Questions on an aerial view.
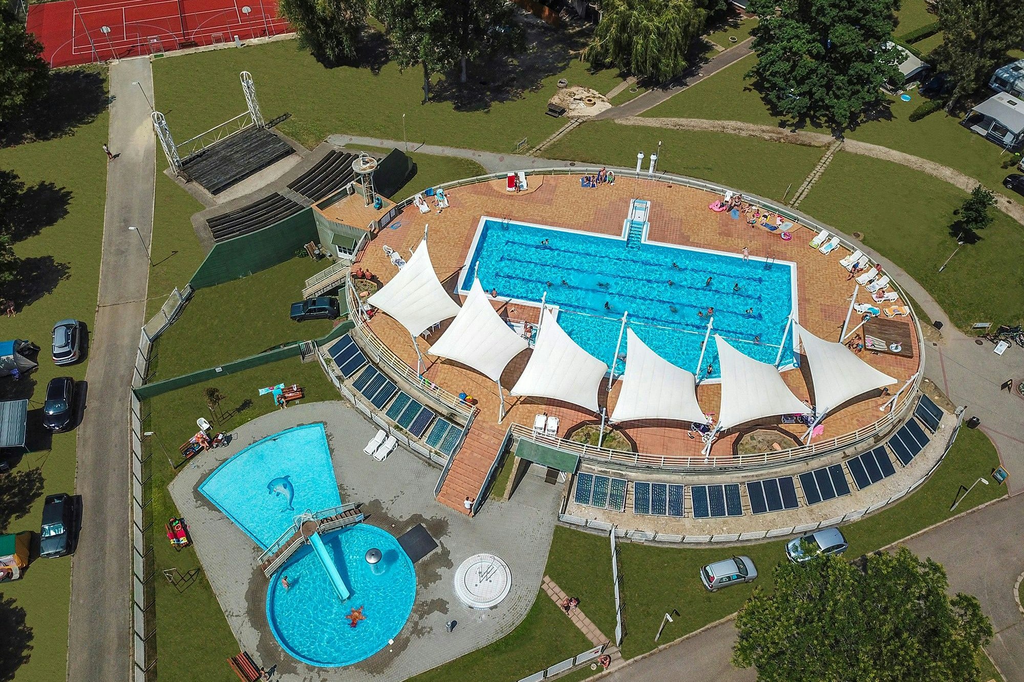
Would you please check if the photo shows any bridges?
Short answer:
Yes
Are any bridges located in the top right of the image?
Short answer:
No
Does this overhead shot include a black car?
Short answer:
Yes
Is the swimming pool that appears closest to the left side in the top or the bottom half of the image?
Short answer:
bottom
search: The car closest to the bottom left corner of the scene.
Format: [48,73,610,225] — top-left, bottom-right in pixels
[39,495,77,564]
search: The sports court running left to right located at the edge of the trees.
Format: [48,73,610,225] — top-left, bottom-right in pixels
[24,0,328,67]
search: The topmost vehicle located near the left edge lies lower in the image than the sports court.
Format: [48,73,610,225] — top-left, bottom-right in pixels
[51,323,85,371]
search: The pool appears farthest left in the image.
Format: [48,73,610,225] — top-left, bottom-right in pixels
[199,423,341,560]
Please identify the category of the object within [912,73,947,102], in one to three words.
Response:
car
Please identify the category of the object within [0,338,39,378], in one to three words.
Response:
tent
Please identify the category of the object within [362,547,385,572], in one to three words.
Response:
fountain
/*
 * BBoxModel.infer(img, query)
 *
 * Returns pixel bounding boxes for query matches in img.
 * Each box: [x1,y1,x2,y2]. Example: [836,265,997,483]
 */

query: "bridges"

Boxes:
[259,498,366,580]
